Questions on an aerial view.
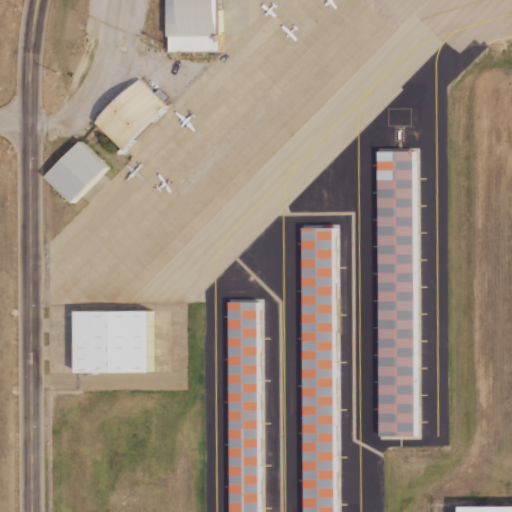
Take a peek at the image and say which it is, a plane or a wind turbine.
plane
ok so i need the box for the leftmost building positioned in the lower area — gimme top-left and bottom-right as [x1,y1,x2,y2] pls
[72,311,155,373]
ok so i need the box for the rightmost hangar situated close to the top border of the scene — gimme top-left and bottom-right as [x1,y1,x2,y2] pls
[166,0,227,53]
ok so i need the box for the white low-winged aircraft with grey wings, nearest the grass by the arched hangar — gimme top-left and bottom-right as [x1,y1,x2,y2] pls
[127,162,143,181]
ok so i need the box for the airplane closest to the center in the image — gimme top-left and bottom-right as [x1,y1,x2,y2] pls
[158,172,171,194]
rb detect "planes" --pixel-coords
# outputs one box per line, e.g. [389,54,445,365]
[327,0,336,9]
[176,110,195,134]
[158,172,171,194]
[127,162,143,181]
[262,2,277,18]
[282,24,298,42]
